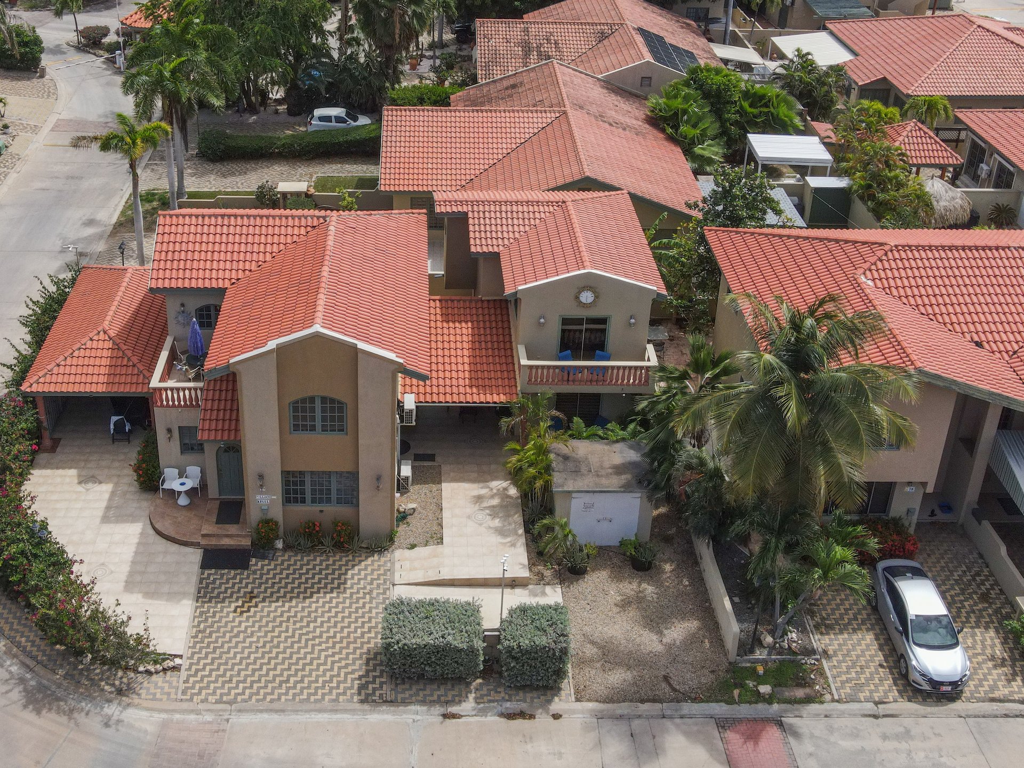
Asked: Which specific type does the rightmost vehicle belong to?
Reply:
car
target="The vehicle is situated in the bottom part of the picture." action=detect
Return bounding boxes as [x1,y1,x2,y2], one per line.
[868,560,982,698]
